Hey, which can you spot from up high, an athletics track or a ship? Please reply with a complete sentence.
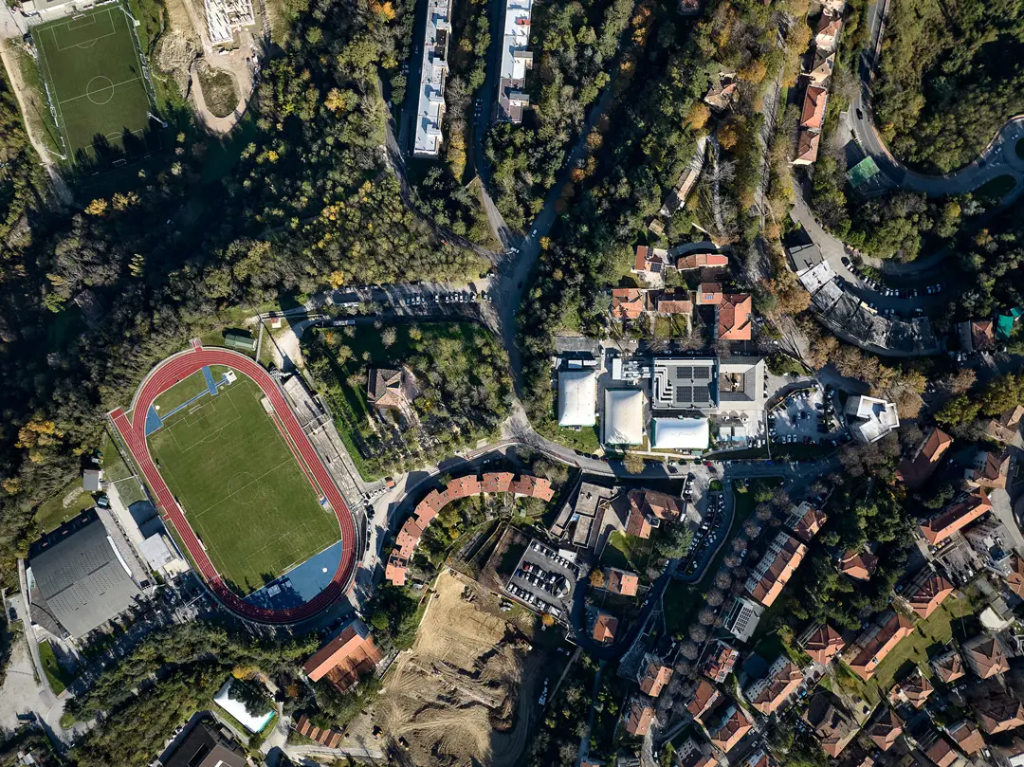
I can see an athletics track in this picture.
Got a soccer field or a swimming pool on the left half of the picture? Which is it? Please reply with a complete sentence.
What appears on the left half of the picture is a soccer field.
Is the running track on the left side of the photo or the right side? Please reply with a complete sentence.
You can find the running track on the left side of the picture.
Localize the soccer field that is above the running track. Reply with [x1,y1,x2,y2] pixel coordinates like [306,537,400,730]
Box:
[32,0,168,182]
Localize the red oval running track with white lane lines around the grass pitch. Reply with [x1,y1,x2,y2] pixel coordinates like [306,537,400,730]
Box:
[110,340,359,627]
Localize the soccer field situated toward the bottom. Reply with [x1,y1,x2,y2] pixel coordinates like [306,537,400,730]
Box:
[145,366,341,608]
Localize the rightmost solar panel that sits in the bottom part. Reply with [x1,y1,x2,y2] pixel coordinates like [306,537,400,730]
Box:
[727,608,761,638]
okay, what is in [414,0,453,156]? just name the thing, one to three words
building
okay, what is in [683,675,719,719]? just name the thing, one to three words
house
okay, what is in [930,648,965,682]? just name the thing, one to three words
house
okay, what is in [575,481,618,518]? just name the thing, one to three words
building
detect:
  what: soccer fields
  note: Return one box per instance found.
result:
[145,366,341,608]
[32,0,168,182]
